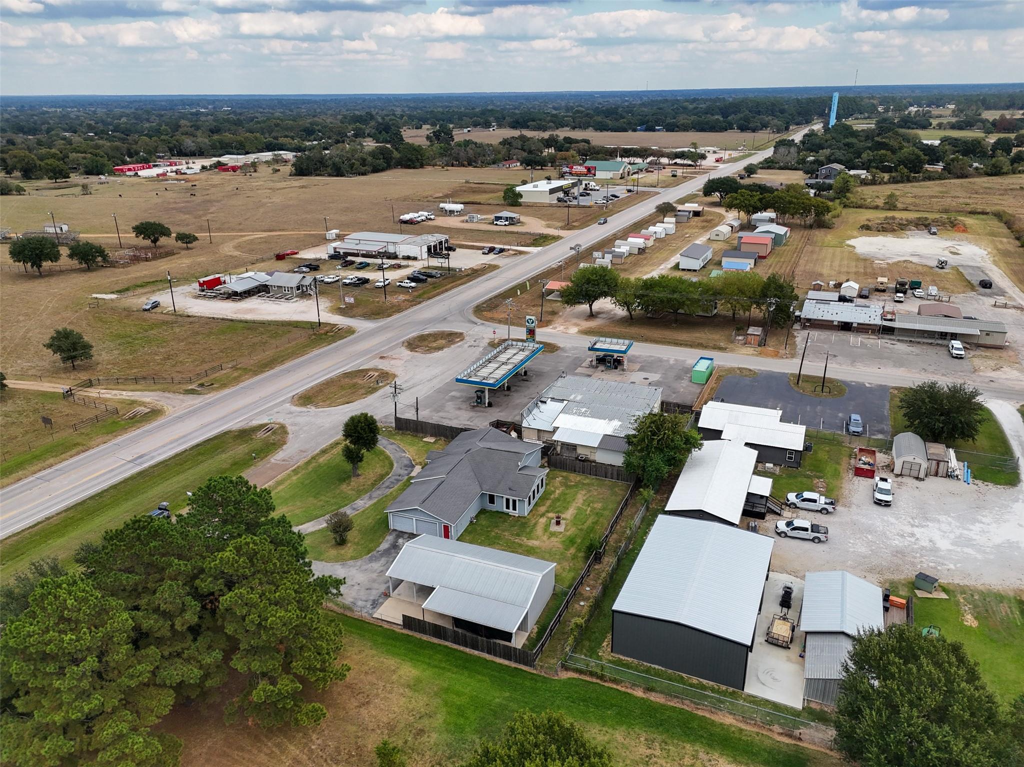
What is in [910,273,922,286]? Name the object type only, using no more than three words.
vehicle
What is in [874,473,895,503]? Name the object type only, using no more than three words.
truck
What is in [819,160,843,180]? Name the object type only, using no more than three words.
house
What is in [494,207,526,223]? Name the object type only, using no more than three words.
building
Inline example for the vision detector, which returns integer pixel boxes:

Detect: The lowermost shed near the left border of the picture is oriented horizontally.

[45,221,76,234]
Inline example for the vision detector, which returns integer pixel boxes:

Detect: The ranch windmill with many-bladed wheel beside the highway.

[567,233,586,279]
